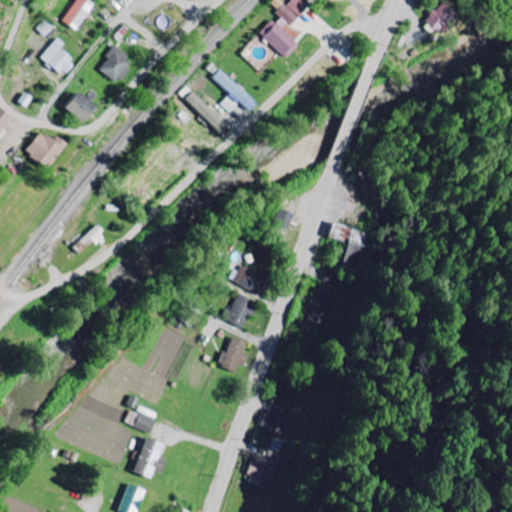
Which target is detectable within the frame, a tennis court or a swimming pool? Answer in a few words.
swimming pool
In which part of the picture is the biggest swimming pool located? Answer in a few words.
top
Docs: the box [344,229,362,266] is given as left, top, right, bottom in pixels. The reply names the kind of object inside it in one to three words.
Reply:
building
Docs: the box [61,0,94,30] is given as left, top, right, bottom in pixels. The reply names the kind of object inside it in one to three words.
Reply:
barn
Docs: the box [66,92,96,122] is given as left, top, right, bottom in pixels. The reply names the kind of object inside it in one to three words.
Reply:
house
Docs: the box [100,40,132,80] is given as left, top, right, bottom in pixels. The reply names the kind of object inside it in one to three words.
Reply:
house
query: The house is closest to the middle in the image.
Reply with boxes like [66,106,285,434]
[229,265,256,291]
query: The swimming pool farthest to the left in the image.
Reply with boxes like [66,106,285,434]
[154,14,170,30]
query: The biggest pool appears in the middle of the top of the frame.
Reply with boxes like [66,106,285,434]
[241,38,274,72]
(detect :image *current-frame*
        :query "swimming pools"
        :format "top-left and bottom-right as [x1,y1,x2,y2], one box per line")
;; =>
[230,250,242,263]
[154,14,170,30]
[241,38,274,72]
